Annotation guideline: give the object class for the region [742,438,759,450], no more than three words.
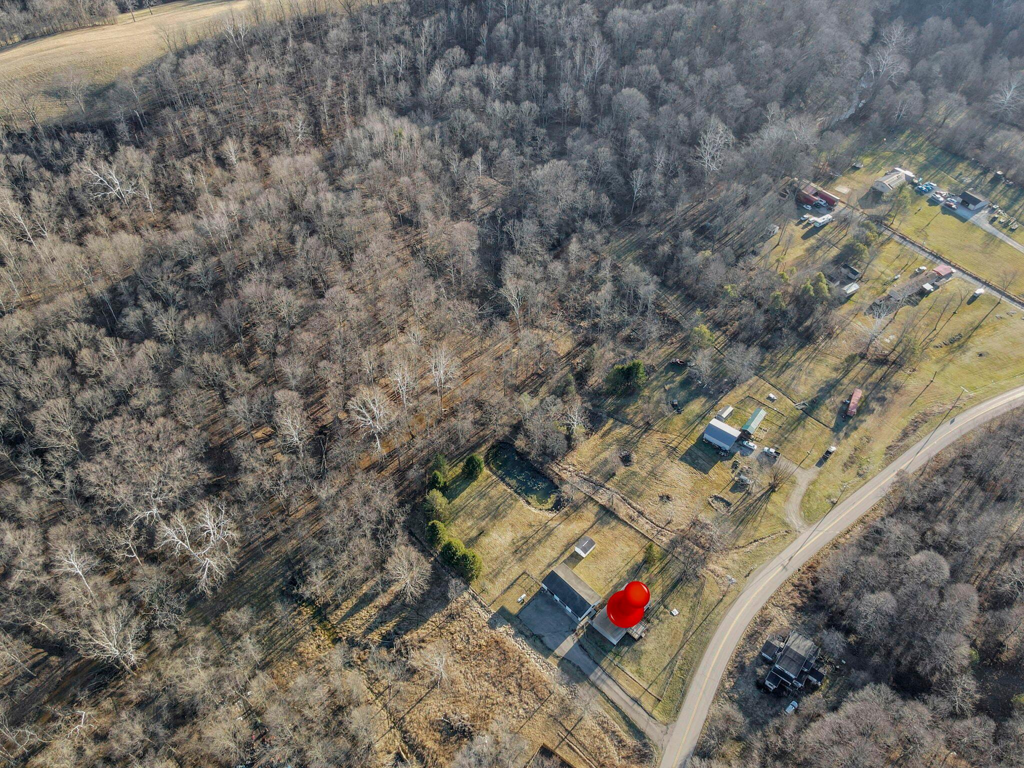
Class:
vehicle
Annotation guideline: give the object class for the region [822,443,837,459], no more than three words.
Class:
vehicle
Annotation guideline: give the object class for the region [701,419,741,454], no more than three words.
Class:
barn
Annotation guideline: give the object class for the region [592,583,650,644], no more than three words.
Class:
house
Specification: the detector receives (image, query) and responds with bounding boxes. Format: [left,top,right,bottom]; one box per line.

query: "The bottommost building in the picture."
[759,631,825,690]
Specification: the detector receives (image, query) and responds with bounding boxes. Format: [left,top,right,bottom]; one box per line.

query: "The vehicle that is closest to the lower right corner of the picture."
[784,696,802,718]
